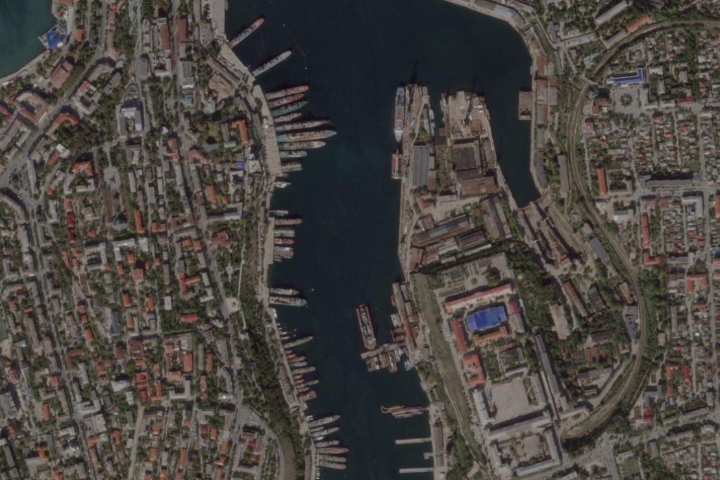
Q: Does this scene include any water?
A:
Yes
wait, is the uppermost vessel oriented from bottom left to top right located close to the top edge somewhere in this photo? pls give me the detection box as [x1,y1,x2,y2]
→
[227,20,263,48]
